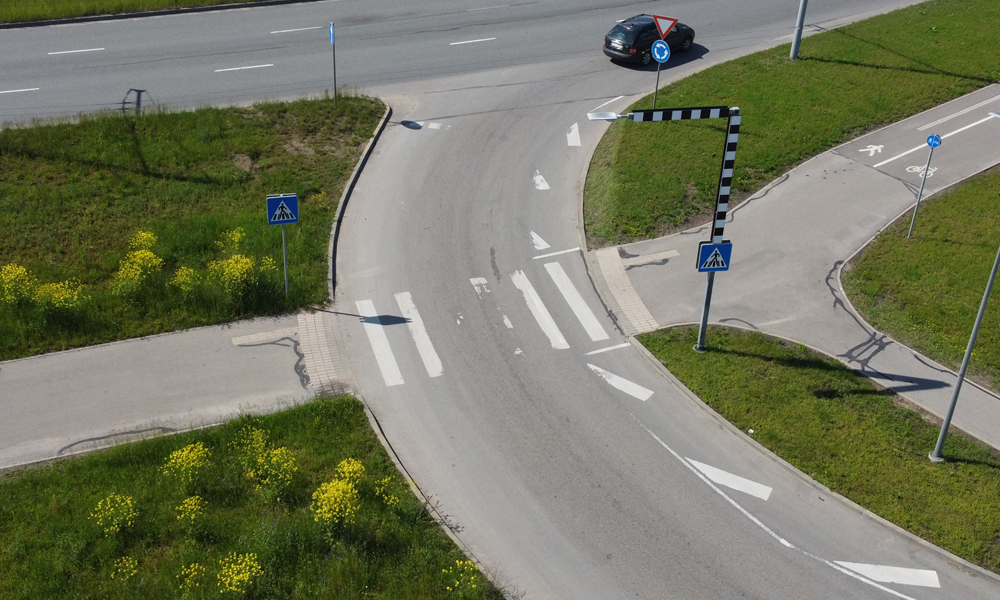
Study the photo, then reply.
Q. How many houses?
0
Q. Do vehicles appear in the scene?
Yes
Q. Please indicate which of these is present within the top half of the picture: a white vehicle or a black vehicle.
black vehicle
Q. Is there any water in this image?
No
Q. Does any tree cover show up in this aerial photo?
No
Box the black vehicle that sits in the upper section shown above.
[602,12,696,64]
